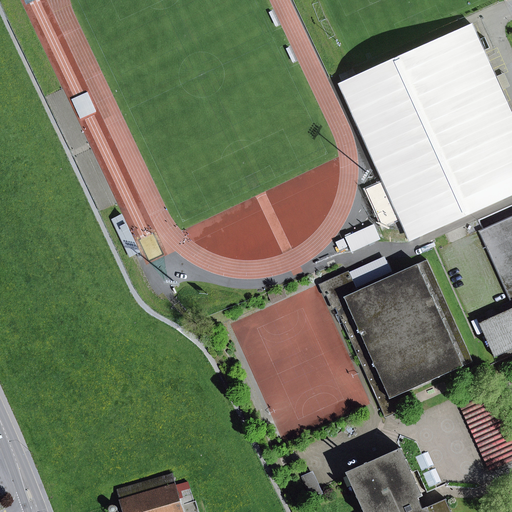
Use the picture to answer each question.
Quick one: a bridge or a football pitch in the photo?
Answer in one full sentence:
There is a football pitch in the scene.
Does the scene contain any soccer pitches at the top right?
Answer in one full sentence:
Yes, I can see a soccer pitch at the top right.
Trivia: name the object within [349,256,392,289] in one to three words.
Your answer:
building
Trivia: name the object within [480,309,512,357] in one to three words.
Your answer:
building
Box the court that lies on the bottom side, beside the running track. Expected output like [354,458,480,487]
[232,286,369,438]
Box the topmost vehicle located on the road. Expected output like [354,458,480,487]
[416,242,436,254]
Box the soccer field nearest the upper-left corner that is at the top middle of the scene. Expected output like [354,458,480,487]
[71,0,338,258]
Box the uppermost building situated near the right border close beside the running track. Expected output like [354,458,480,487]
[338,24,512,241]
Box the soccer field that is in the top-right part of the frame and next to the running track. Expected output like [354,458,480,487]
[326,0,462,50]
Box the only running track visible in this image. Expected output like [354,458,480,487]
[48,0,360,278]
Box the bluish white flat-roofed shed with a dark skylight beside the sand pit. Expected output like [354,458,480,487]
[112,214,140,257]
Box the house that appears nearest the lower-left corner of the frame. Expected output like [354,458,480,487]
[116,473,198,512]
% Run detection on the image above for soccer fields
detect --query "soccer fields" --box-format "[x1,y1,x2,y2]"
[326,0,462,50]
[71,0,338,258]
